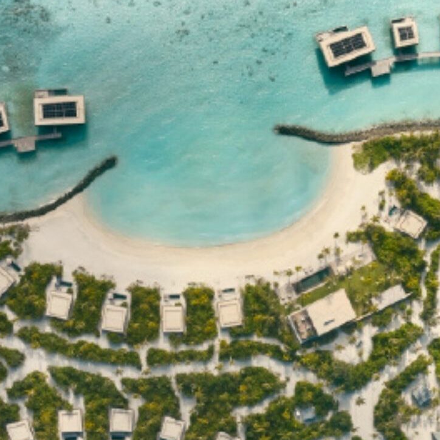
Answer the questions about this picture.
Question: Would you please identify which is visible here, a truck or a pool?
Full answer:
Looking from above, you can make out a pool.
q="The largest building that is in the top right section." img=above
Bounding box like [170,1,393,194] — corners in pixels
[318,23,376,68]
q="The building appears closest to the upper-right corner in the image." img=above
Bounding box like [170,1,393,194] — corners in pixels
[391,16,419,49]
